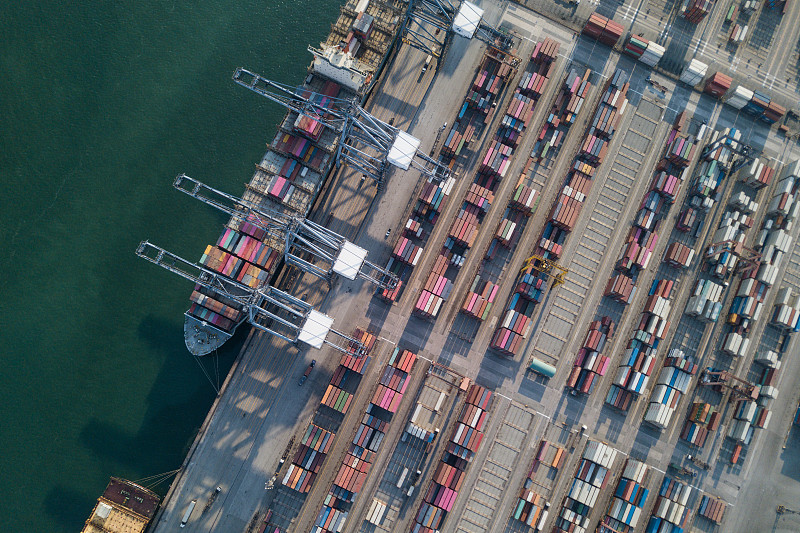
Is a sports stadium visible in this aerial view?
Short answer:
No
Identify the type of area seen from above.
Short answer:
port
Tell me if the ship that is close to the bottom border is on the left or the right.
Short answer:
left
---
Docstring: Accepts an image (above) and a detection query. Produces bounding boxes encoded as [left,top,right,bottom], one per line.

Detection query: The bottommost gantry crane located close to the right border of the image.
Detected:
[696,370,761,399]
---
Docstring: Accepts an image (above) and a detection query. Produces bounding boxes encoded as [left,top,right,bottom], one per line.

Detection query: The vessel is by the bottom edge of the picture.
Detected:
[80,474,166,533]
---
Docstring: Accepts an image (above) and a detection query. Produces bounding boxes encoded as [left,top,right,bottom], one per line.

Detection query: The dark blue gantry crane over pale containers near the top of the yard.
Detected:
[698,134,758,175]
